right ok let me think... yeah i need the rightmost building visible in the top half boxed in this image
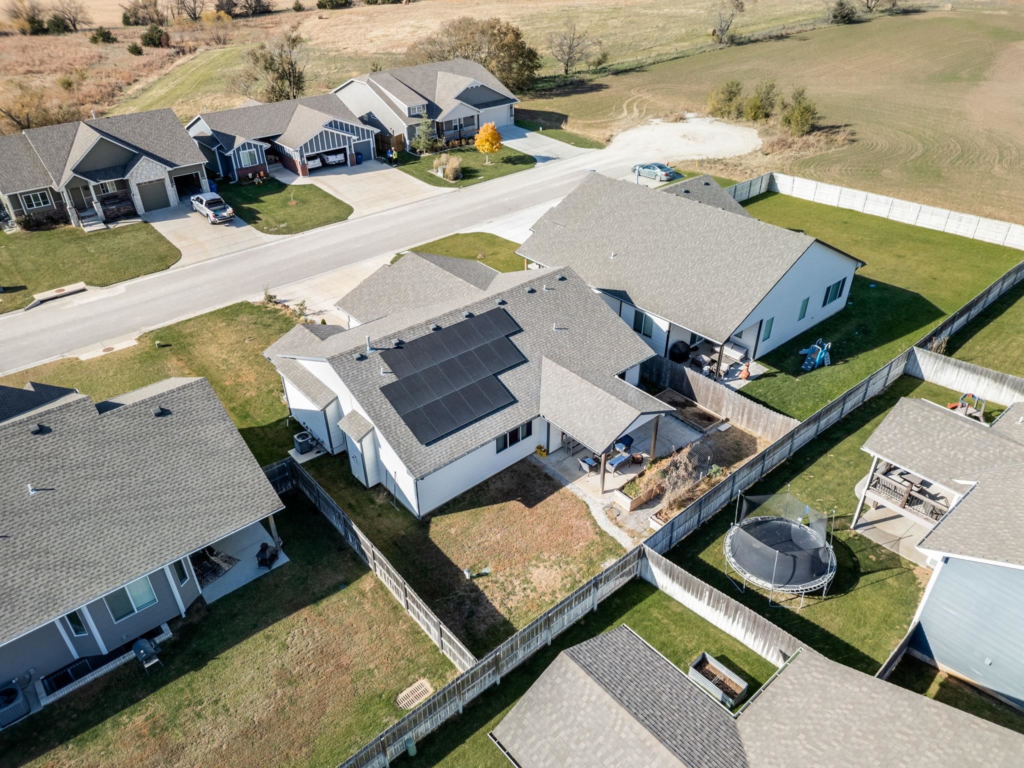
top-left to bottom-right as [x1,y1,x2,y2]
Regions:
[509,164,867,378]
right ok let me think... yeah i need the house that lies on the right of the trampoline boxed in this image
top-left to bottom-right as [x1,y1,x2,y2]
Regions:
[847,396,1024,705]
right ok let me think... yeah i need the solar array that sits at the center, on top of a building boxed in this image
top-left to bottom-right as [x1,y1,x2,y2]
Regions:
[380,303,527,444]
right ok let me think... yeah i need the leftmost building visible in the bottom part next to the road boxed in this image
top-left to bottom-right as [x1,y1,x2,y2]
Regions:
[0,374,288,697]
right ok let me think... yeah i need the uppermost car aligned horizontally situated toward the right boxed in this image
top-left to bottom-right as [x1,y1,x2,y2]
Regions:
[634,163,674,180]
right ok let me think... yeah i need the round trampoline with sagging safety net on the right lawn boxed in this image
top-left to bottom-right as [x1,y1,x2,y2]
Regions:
[726,487,835,614]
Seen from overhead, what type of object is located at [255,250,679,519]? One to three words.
house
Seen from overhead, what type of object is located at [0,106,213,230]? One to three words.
house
